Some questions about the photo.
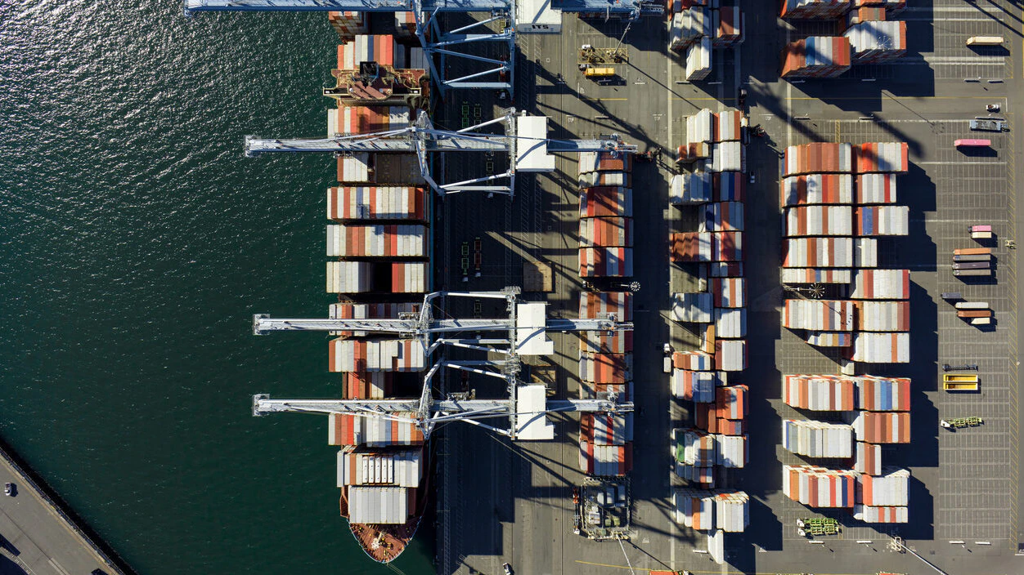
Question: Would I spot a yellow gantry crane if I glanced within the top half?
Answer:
No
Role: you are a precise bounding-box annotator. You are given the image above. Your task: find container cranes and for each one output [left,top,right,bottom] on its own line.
[252,350,634,440]
[253,283,634,356]
[180,0,656,108]
[246,101,638,206]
